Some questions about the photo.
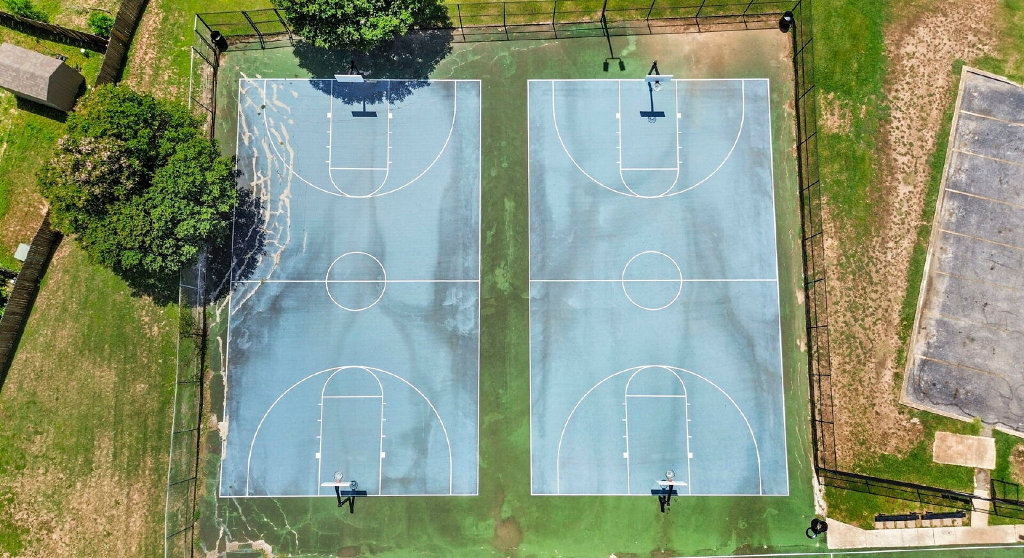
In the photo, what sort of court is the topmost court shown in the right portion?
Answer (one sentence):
It looks like the topmost court shown in the right portion is a basketball court.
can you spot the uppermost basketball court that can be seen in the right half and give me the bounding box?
[528,80,787,495]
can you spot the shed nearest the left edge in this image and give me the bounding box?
[0,38,85,111]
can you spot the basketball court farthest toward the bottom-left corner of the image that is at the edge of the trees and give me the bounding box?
[221,75,480,496]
